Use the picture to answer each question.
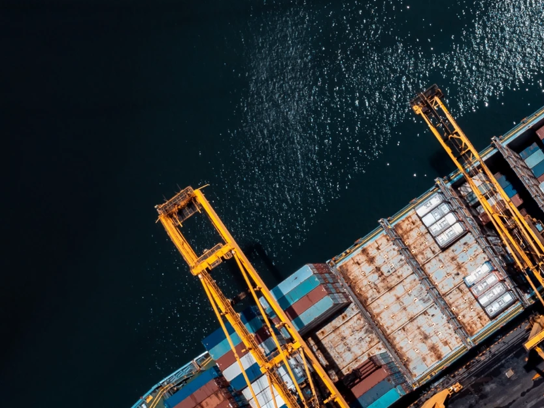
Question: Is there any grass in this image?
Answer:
No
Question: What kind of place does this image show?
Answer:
port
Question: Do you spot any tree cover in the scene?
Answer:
No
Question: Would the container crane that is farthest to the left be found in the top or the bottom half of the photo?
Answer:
bottom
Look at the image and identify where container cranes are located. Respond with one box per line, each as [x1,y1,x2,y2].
[151,180,356,408]
[403,81,544,362]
